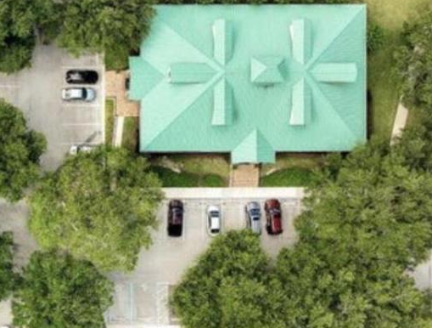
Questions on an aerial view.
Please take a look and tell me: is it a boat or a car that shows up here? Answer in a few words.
car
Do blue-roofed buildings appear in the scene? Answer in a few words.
No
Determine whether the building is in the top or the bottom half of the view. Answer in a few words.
top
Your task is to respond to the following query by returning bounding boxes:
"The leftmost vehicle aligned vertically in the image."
[167,199,185,236]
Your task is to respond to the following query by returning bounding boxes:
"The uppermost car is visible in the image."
[64,69,98,85]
